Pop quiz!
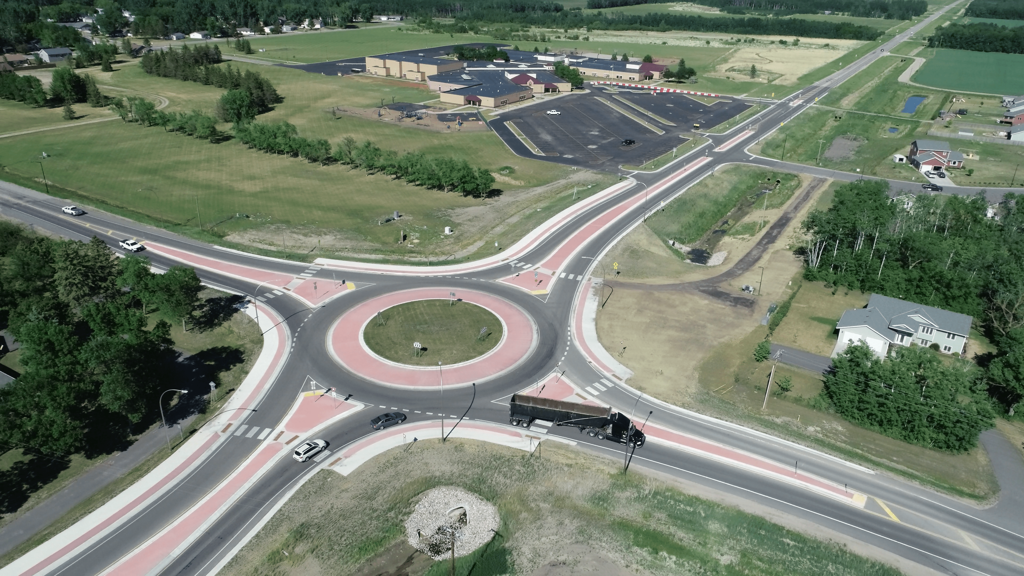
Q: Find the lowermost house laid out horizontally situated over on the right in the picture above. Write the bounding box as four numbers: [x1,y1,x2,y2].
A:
[836,293,973,355]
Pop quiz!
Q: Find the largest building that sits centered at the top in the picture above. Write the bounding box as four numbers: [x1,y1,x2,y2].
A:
[366,50,665,109]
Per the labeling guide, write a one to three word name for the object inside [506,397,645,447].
truck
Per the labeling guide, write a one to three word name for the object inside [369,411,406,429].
car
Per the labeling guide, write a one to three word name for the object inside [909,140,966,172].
house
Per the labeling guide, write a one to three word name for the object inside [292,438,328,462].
car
